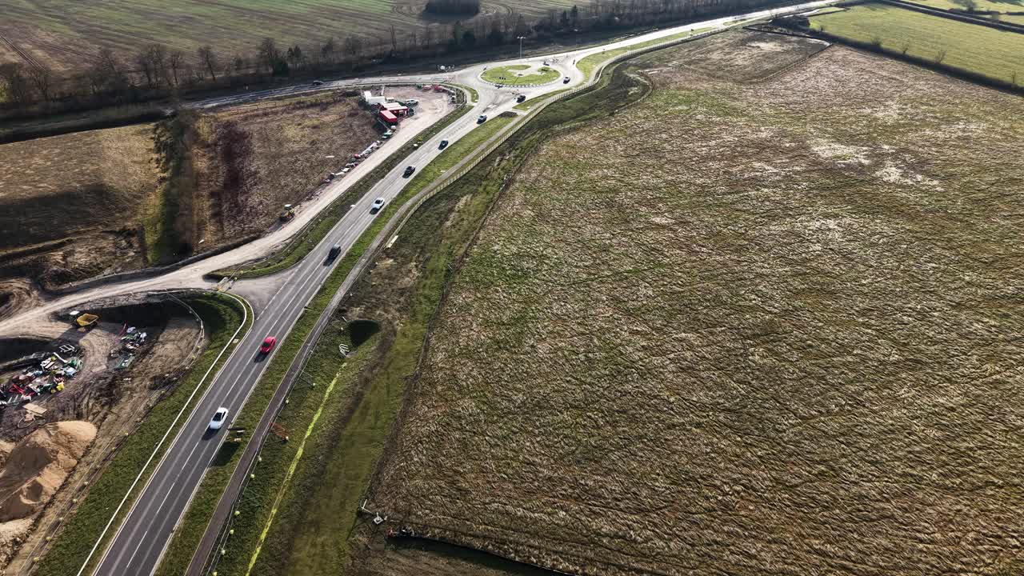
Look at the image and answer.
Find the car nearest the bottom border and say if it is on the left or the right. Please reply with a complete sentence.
It is on the left.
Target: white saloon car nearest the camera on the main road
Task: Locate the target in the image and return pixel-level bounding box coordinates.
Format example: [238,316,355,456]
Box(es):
[207,408,228,430]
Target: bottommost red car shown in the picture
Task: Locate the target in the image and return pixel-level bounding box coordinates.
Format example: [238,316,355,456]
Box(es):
[259,337,275,353]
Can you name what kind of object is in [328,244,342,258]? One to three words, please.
car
